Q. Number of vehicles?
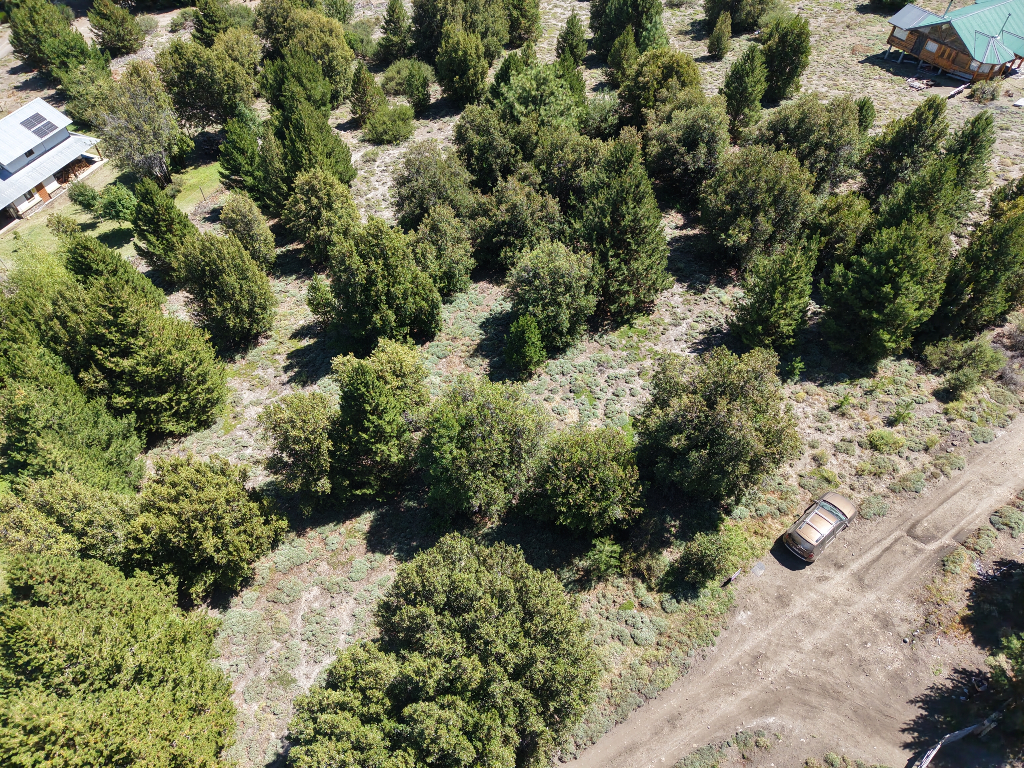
1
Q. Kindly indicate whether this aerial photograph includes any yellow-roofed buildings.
No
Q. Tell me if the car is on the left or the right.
right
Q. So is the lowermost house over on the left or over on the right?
left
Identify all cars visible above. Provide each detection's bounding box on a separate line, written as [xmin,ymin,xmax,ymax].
[785,493,855,560]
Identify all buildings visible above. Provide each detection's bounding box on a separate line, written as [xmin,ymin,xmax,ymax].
[0,96,109,215]
[884,0,1024,86]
